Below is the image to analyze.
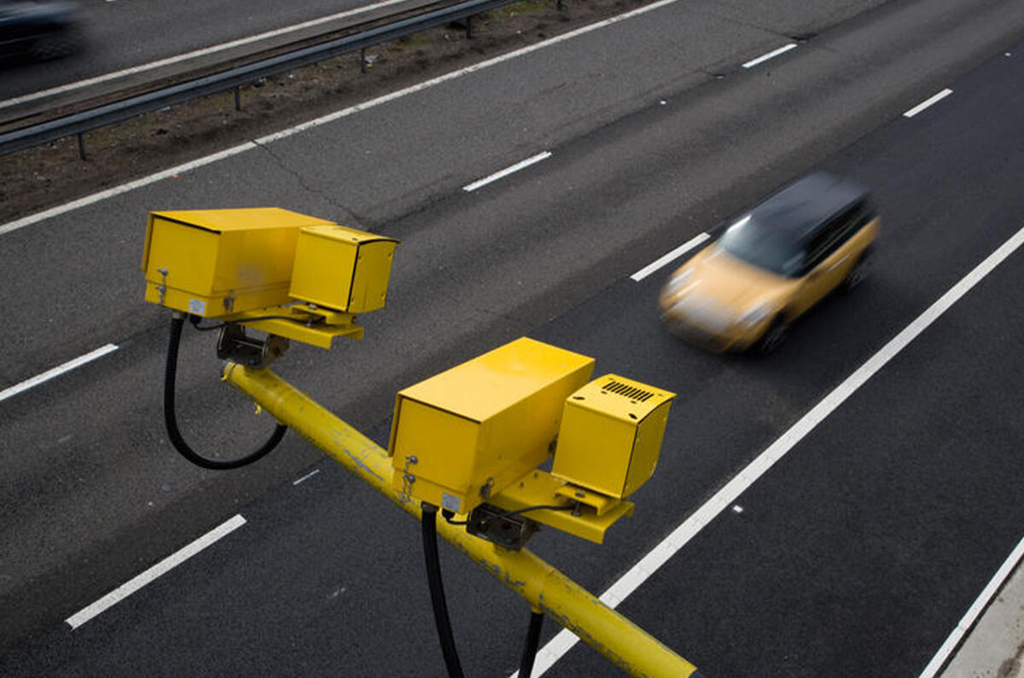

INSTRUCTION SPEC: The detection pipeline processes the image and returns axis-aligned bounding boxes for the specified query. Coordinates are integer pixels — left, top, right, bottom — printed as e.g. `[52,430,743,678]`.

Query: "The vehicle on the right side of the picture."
[656,167,884,357]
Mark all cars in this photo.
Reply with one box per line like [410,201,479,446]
[656,167,884,357]
[0,0,84,62]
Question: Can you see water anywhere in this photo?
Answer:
No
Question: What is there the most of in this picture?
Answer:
paved ground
